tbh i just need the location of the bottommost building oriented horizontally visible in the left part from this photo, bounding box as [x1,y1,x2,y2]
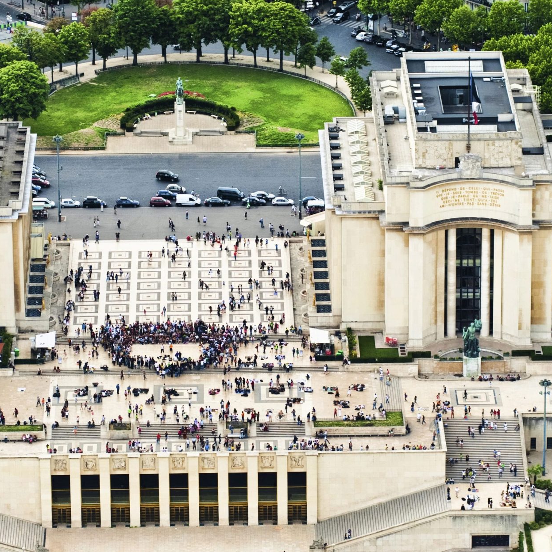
[38,447,319,528]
